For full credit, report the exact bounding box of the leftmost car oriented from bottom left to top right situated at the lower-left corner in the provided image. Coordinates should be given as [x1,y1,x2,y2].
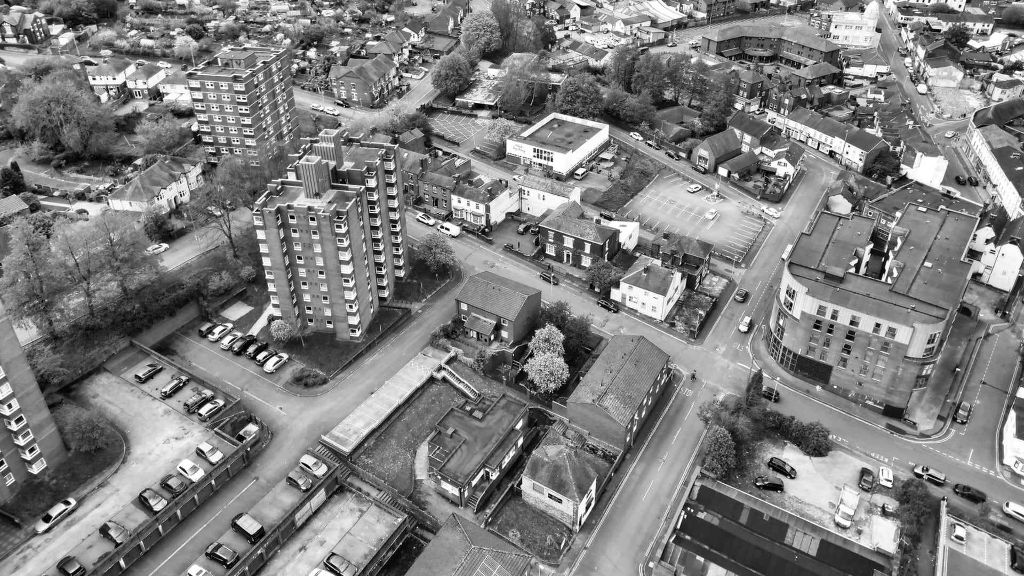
[39,501,73,531]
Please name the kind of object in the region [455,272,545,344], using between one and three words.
house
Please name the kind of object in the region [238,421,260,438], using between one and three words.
vehicle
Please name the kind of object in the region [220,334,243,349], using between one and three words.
car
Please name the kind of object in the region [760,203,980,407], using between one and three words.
building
